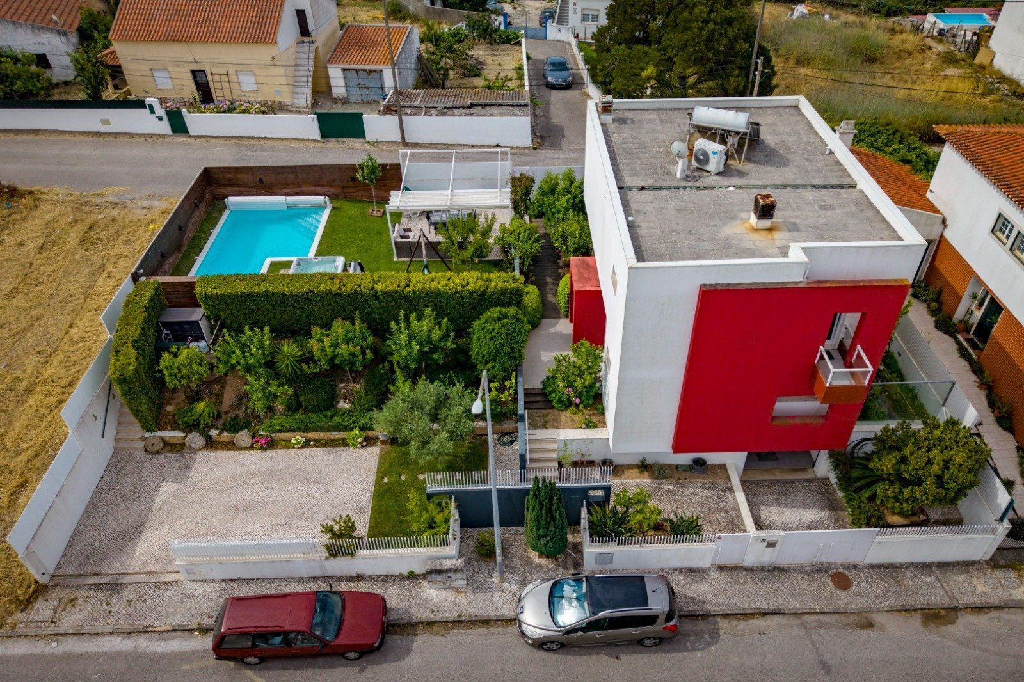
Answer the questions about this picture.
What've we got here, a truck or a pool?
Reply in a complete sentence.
The one in the frame is a pool.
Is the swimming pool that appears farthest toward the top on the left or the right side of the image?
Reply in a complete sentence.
It is on the right.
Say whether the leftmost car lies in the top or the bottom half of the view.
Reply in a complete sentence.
You can find the leftmost car in the bottom half.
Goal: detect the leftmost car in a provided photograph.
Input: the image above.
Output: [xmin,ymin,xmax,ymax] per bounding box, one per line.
[211,582,389,667]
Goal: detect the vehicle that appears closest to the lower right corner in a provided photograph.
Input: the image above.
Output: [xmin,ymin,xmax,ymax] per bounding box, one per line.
[517,574,682,656]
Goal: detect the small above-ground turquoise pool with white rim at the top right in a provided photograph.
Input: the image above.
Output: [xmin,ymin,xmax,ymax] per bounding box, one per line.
[924,12,993,42]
